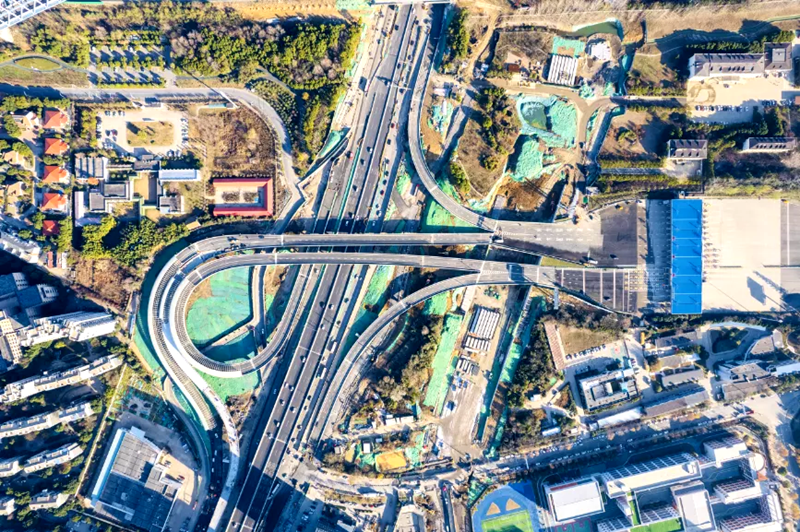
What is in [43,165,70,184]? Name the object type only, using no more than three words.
house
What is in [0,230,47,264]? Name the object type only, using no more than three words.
building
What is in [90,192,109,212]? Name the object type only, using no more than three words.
building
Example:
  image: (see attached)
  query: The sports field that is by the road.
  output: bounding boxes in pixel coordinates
[472,478,539,532]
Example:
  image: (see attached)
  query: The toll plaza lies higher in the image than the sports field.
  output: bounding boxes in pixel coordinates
[482,197,800,316]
